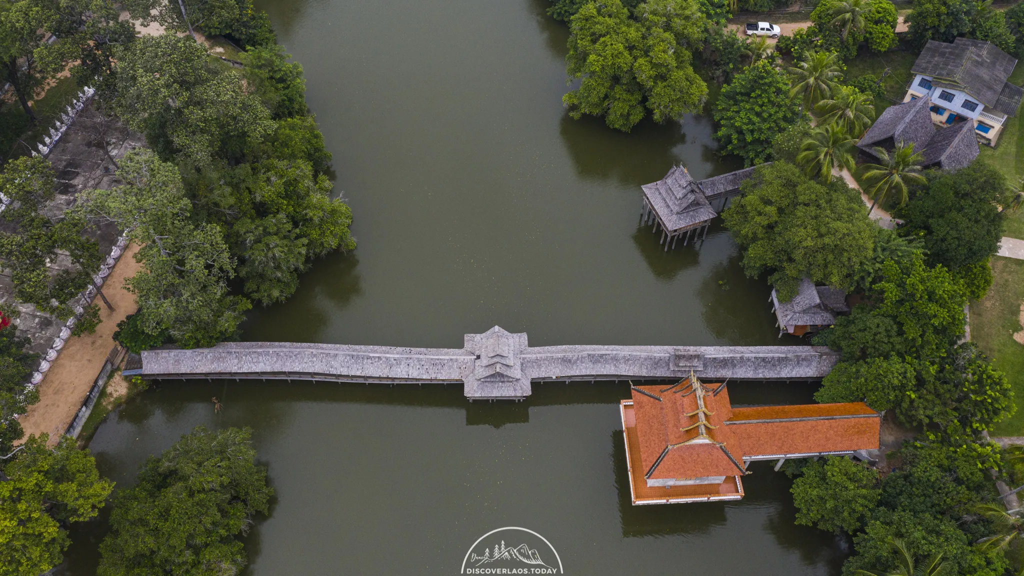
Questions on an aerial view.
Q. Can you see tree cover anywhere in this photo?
Yes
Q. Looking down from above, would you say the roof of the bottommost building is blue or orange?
orange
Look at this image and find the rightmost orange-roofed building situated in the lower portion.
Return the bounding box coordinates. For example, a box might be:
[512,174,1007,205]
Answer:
[618,373,753,506]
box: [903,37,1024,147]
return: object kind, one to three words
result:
house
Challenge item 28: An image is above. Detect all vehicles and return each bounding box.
[746,24,783,41]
